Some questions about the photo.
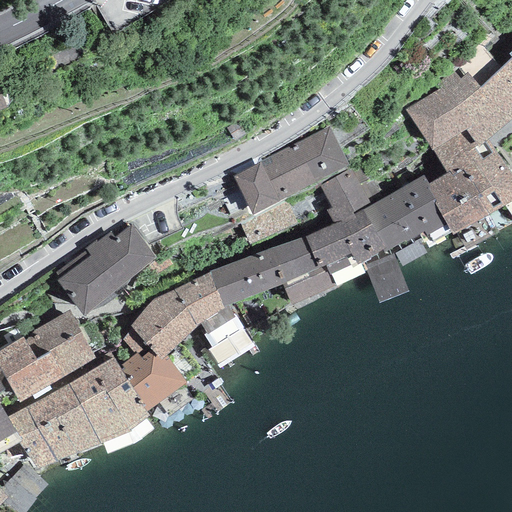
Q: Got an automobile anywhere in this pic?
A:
Yes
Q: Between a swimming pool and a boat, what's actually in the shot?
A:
boat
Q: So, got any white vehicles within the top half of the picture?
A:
Yes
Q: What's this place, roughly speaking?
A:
residential area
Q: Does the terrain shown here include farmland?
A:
No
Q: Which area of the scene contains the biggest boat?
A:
right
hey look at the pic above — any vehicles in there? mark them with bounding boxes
[1,264,23,279]
[68,216,91,234]
[300,93,322,112]
[342,58,364,77]
[94,202,118,218]
[362,39,383,58]
[123,0,146,12]
[154,210,168,234]
[396,0,416,18]
[47,234,68,250]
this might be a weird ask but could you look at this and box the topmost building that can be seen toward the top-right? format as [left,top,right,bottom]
[406,58,512,148]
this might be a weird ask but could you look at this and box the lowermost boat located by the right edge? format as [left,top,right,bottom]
[464,254,494,275]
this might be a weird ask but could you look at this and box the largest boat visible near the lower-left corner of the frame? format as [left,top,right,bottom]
[66,459,90,471]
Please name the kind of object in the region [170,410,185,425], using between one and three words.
umbrella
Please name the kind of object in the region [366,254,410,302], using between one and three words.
building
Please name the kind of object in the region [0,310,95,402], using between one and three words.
house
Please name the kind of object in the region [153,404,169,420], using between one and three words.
umbrella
